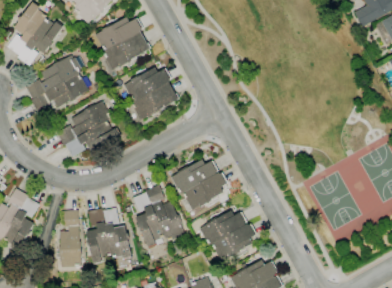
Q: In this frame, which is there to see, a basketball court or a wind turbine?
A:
basketball court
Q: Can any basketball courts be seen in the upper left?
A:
No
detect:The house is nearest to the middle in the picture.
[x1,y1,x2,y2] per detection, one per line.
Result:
[173,157,228,210]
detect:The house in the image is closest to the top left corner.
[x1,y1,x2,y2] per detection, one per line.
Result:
[8,1,64,65]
